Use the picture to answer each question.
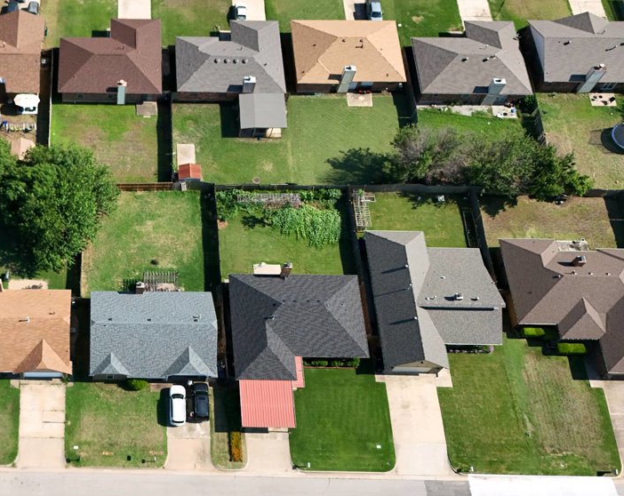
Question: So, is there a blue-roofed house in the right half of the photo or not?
No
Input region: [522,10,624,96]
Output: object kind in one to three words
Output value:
house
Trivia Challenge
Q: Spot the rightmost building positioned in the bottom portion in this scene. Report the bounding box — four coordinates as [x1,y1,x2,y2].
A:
[494,239,624,381]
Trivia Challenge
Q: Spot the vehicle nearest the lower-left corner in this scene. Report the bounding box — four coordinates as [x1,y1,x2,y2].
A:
[168,388,186,425]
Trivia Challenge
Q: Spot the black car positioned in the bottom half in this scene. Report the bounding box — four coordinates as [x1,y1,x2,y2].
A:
[192,382,210,419]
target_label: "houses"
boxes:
[58,18,161,107]
[0,277,73,382]
[229,262,370,387]
[176,20,285,104]
[408,20,533,108]
[494,239,624,381]
[0,8,45,106]
[85,280,218,386]
[363,231,505,376]
[522,10,624,96]
[291,20,406,98]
